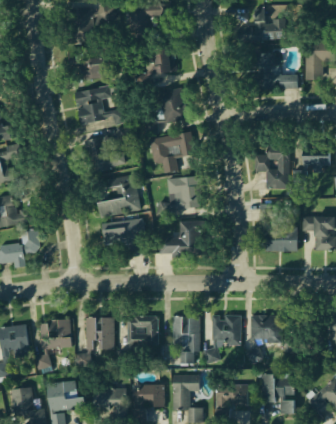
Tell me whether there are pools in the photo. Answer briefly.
Yes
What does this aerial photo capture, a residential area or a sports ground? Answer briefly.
residential area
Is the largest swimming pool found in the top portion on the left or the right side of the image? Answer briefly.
right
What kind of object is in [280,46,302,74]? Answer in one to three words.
swimming pool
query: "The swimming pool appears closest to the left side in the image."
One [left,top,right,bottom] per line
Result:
[135,370,160,384]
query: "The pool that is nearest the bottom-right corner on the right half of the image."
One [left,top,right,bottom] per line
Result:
[195,370,214,400]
